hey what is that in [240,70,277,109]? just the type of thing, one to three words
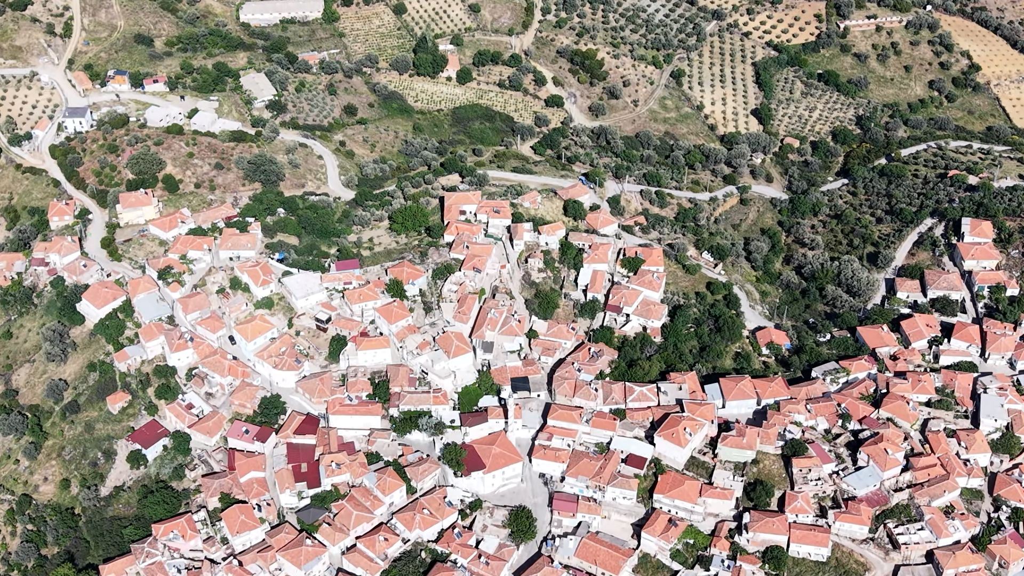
barn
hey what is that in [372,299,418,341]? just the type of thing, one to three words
house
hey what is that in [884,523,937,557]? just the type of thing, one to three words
building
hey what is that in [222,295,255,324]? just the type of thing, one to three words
shed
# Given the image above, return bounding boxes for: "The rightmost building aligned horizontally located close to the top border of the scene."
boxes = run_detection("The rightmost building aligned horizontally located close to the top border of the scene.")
[838,16,903,32]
